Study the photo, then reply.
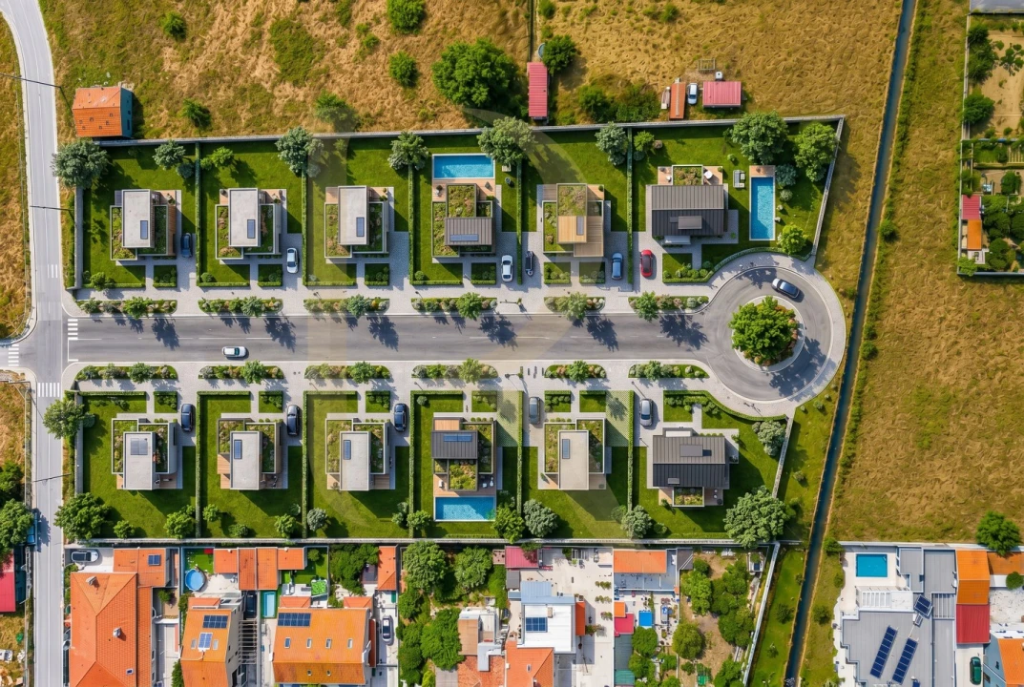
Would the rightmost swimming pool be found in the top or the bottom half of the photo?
bottom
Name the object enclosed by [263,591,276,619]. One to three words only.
swimming pool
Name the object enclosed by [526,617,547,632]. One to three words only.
solar panel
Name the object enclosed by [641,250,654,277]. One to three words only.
vehicle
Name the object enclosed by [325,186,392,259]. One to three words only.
house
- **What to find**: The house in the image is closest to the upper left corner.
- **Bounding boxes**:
[73,86,133,141]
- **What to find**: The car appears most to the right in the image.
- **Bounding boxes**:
[969,655,983,684]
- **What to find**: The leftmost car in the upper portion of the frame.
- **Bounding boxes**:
[180,232,194,259]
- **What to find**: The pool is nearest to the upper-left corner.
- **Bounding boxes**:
[432,153,495,180]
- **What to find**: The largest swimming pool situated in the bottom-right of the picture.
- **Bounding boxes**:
[856,553,888,578]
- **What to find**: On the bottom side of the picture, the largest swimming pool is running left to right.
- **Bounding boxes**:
[434,496,496,522]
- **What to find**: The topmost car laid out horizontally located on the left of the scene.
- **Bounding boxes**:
[223,346,247,358]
